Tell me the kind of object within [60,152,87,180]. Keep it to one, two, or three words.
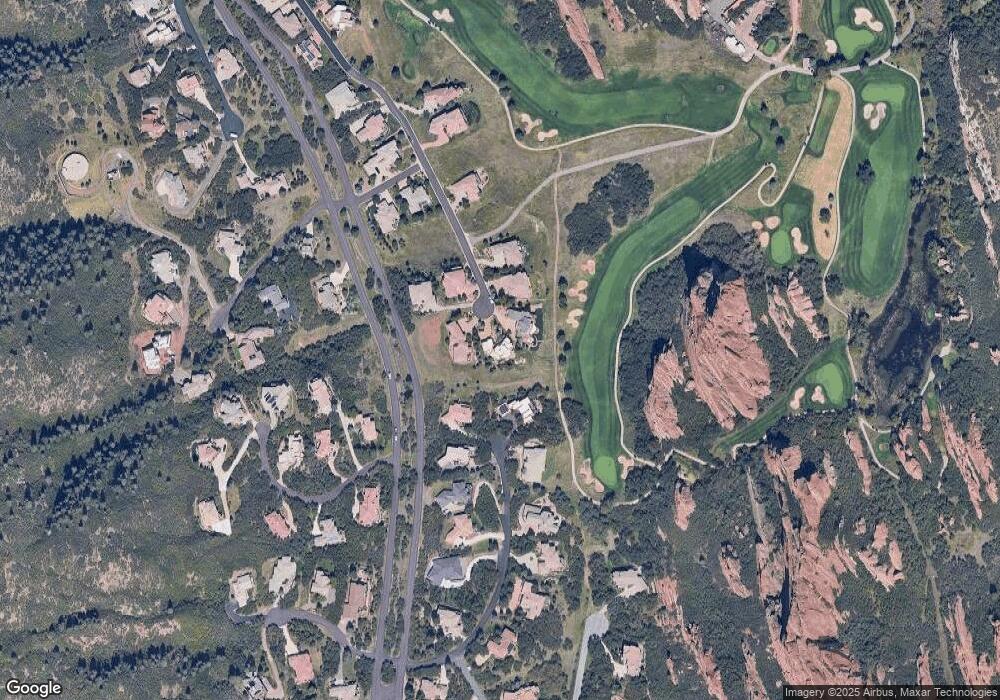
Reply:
water tank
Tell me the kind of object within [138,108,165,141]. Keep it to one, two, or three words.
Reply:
building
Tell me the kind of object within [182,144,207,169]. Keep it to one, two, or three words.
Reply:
house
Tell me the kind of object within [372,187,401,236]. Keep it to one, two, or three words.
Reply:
house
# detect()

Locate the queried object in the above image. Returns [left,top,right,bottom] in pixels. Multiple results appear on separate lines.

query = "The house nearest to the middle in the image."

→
[480,335,516,362]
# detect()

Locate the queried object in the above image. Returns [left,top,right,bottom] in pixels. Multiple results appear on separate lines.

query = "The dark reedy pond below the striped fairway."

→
[865,201,942,401]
